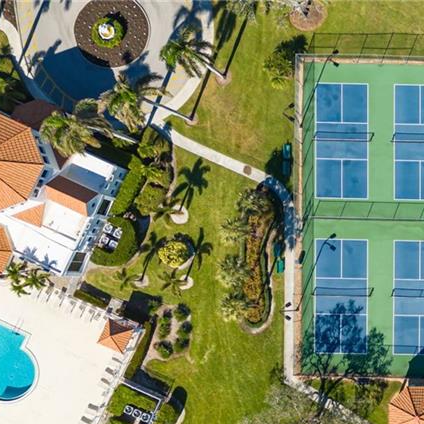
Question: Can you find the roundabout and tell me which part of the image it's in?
top left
